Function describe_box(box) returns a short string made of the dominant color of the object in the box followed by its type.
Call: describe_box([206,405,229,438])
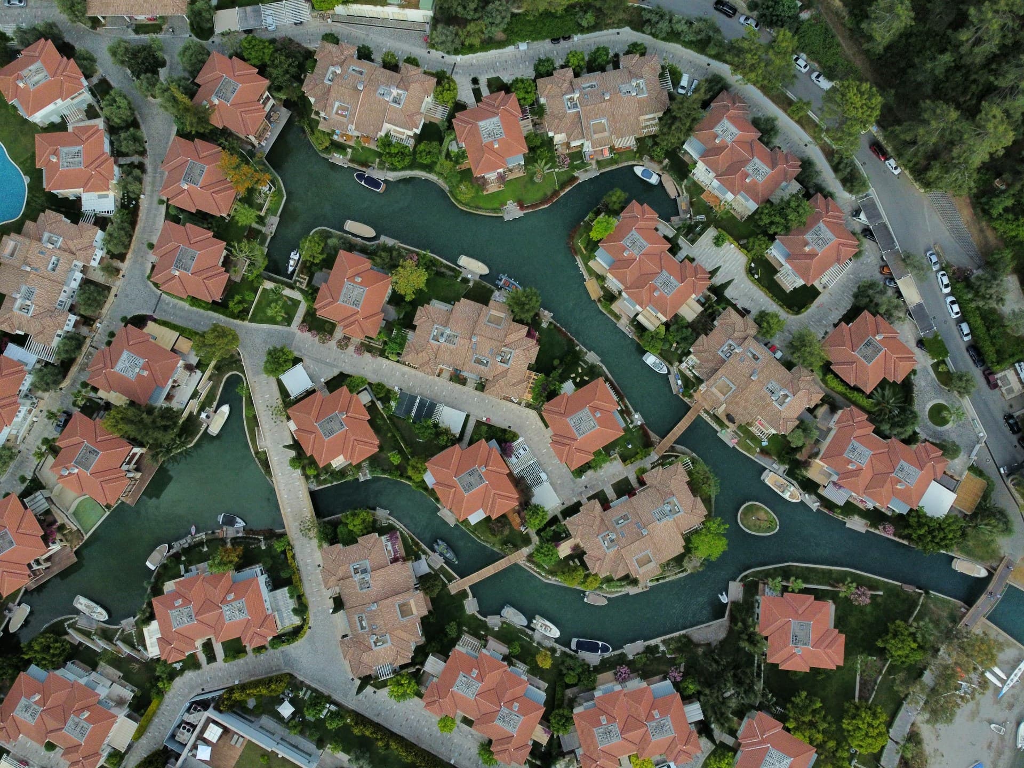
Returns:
white boat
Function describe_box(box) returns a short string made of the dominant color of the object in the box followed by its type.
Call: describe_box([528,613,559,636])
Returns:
white boat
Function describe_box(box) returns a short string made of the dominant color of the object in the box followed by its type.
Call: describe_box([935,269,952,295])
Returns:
white car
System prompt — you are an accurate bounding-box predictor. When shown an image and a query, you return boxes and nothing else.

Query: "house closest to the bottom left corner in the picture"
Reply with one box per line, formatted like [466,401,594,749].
[0,657,135,768]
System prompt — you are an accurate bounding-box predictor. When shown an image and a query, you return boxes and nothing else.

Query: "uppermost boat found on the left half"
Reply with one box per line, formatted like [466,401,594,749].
[355,175,389,192]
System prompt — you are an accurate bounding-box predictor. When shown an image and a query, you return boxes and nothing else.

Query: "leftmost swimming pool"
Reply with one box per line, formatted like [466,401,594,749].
[0,143,27,223]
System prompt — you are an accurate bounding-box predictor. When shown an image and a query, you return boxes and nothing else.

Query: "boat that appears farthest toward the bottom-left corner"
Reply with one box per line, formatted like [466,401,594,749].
[10,600,32,632]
